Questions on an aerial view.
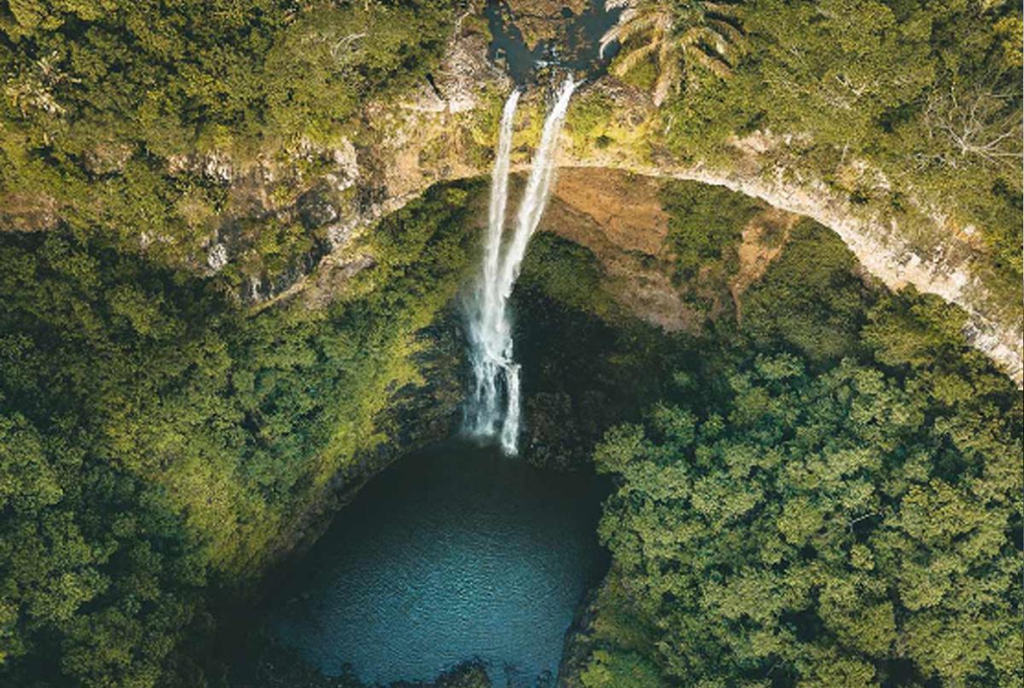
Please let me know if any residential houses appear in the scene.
No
